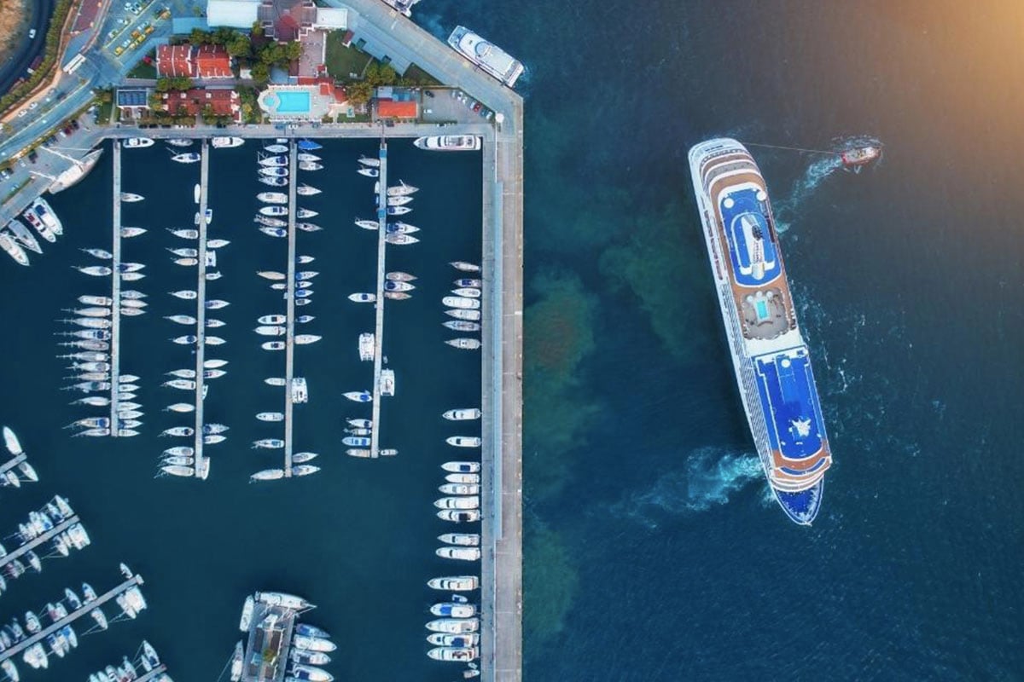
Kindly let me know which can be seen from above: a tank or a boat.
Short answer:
boat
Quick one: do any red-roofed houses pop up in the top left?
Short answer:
Yes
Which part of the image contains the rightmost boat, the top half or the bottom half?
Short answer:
top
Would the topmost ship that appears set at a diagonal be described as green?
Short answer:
No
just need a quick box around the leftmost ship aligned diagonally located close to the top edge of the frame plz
[447,24,521,86]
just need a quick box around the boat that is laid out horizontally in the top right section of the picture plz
[840,146,883,167]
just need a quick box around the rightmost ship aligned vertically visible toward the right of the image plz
[687,136,833,527]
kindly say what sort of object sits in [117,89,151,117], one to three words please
building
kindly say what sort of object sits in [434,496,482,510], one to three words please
boat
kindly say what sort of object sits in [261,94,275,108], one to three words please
swimming pool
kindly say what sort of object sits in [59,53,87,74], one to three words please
bus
